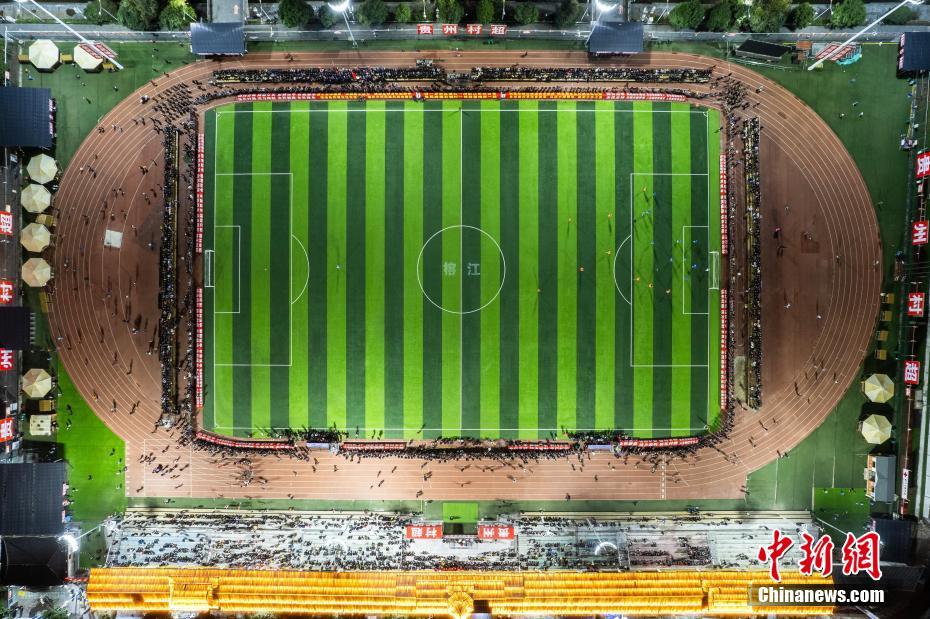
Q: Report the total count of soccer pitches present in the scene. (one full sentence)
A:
Just 1 soccer pitch appears in this view.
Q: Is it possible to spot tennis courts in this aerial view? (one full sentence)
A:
No, this view has no tennis court in it.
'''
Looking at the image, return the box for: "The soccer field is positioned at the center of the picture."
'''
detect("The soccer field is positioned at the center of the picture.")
[197,98,726,443]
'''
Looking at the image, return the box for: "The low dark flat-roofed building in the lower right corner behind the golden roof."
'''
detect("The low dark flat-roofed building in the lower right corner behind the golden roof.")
[819,556,928,619]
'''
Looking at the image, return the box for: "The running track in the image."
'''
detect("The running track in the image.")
[45,48,882,500]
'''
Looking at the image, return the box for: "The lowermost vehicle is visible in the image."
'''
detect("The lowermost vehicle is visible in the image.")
[4,150,17,165]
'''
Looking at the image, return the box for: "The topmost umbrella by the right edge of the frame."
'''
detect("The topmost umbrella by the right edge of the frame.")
[860,375,893,402]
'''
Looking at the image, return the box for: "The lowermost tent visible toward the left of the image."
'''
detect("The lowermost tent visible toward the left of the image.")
[30,415,56,435]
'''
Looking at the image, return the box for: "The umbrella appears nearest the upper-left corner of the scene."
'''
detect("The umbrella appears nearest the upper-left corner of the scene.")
[29,40,62,69]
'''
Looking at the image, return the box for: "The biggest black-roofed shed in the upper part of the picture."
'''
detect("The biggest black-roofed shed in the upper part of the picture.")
[730,40,791,64]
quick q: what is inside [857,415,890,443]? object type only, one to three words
umbrella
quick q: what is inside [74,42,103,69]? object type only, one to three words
umbrella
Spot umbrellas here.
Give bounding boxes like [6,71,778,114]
[27,153,62,184]
[857,415,890,443]
[29,40,62,69]
[23,259,56,286]
[74,42,103,69]
[860,375,893,402]
[23,369,56,397]
[21,223,54,251]
[22,184,56,212]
